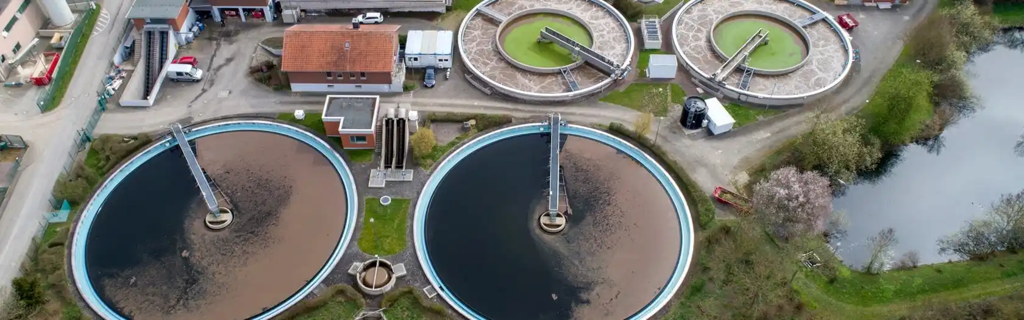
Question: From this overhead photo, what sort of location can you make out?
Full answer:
This image shows an industrial area.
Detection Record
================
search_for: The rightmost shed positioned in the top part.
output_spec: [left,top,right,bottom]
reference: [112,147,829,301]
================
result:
[702,94,737,133]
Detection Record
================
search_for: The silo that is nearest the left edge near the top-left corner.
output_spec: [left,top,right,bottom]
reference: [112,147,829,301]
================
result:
[35,0,81,29]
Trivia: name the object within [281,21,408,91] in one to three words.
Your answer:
house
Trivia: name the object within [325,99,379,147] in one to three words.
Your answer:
building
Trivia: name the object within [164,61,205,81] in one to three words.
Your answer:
vehicle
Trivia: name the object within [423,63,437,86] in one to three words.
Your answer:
car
